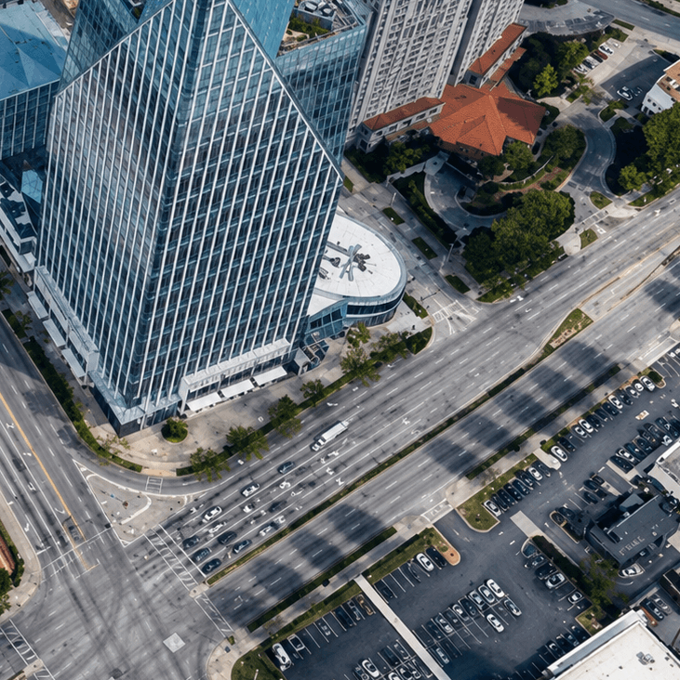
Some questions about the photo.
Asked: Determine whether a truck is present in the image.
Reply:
Yes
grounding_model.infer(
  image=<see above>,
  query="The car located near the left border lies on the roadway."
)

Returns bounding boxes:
[10,454,27,476]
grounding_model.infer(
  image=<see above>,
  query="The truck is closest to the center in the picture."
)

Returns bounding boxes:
[311,413,352,450]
